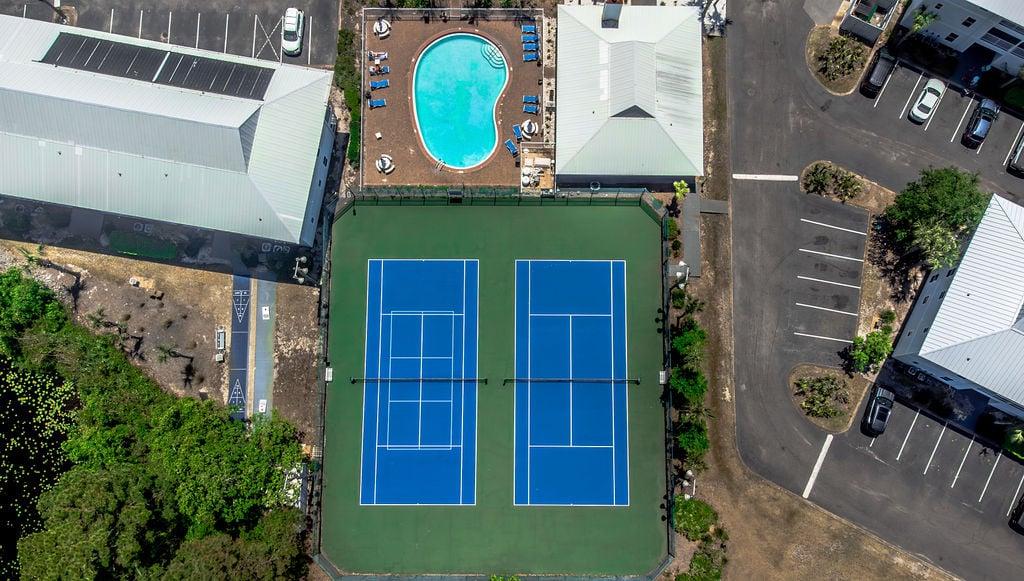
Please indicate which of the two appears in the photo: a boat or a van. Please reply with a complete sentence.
Looking from above, you can make out a van.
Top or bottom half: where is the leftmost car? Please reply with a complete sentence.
The top half of the photo is where the leftmost car is.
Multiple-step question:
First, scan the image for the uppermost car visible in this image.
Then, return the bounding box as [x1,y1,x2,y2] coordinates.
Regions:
[280,10,304,56]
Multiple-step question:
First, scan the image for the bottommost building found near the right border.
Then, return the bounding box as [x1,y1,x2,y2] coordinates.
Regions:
[892,192,1024,418]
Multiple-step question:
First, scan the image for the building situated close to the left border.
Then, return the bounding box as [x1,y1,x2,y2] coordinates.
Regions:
[0,16,350,248]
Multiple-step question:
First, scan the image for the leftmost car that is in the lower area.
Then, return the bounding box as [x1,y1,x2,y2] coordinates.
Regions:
[863,387,898,438]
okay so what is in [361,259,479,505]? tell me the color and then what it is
blue tennis court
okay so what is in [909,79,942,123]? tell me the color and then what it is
white car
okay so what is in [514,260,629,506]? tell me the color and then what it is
blue tennis court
